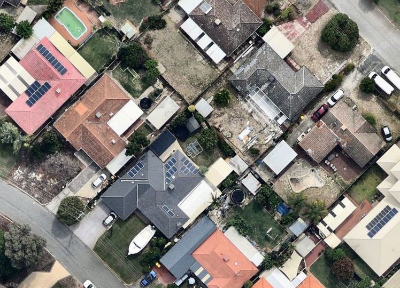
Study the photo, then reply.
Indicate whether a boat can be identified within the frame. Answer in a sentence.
Yes, the picture does show a boat.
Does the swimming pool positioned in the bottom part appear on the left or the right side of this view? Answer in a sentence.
The swimming pool positioned in the bottom part is on the right side of the image.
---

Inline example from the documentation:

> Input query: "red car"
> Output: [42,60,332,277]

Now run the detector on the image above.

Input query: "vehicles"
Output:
[328,88,344,106]
[102,209,117,226]
[313,103,328,121]
[383,64,400,90]
[382,124,392,142]
[92,171,107,189]
[141,269,156,287]
[371,70,394,96]
[84,279,97,288]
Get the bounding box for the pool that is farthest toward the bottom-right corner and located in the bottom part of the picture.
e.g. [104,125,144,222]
[290,167,326,193]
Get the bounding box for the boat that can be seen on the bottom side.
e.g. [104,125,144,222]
[130,223,156,255]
